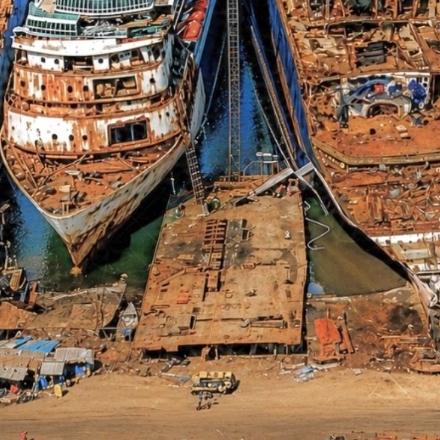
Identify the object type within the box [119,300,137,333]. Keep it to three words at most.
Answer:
boat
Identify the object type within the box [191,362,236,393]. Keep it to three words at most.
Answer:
truck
